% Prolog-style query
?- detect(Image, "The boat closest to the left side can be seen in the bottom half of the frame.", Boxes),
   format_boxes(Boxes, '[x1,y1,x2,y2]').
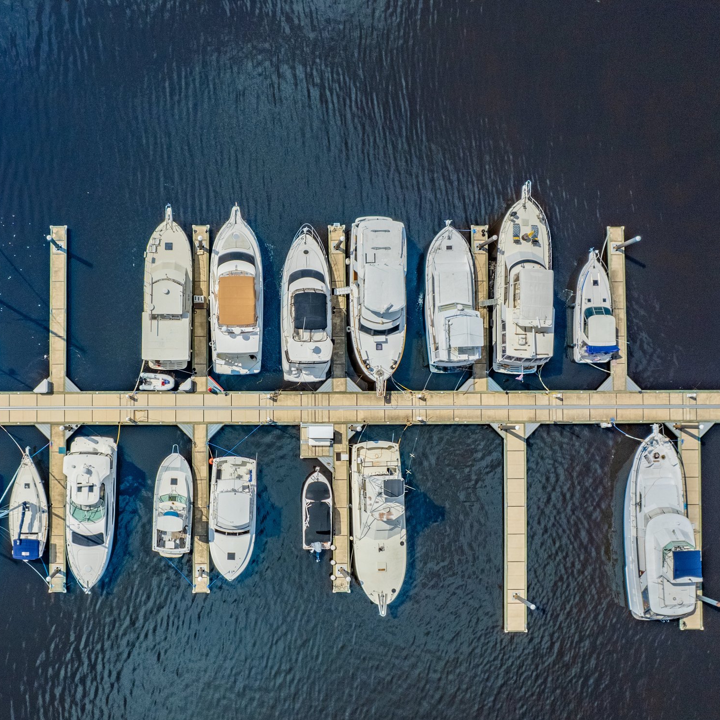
[0,446,52,562]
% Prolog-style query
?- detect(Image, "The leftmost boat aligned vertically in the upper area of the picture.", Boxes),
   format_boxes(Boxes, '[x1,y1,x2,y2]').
[143,203,194,370]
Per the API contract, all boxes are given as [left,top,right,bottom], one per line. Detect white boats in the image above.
[0,446,52,562]
[424,220,484,373]
[135,373,175,391]
[624,423,702,623]
[492,178,554,381]
[569,248,630,364]
[152,444,194,557]
[143,203,194,370]
[208,450,258,581]
[279,223,334,383]
[208,202,264,374]
[343,216,408,397]
[63,437,118,594]
[348,435,419,617]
